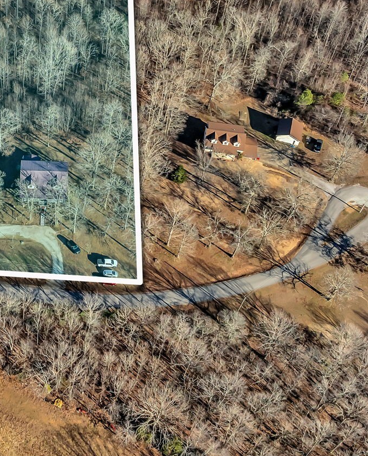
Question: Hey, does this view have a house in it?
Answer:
Yes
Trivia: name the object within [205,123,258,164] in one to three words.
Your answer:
house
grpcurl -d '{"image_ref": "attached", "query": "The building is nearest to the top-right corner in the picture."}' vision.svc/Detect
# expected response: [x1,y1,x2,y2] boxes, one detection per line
[275,118,305,147]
